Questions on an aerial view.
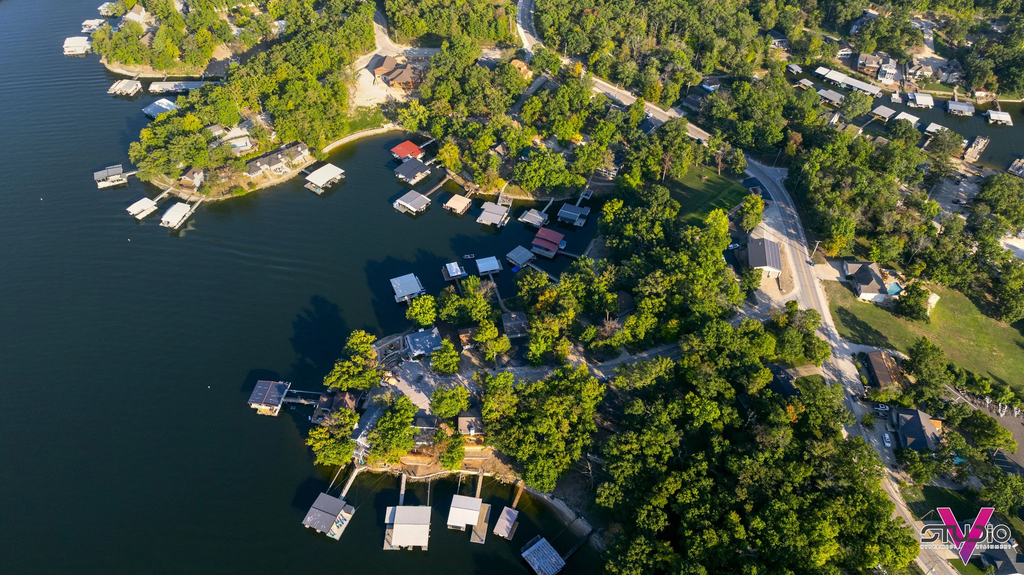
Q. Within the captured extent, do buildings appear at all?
Yes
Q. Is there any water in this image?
Yes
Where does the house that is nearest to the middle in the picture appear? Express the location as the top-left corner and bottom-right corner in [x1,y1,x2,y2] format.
[502,311,529,340]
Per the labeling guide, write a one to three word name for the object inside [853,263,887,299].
house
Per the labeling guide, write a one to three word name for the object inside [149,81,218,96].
pier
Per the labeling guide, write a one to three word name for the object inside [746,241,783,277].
building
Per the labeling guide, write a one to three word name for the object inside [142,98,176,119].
pier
